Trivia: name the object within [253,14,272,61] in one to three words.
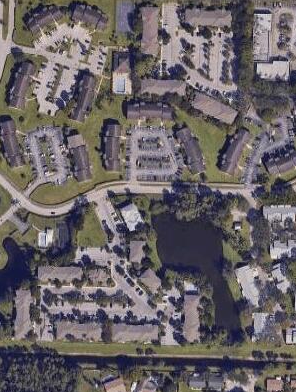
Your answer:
building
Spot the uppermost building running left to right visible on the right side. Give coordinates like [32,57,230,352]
[187,9,232,26]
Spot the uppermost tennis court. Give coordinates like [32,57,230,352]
[115,0,134,32]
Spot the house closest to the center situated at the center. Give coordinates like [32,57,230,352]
[122,205,143,231]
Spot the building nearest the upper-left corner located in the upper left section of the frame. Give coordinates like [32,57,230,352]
[22,3,67,38]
